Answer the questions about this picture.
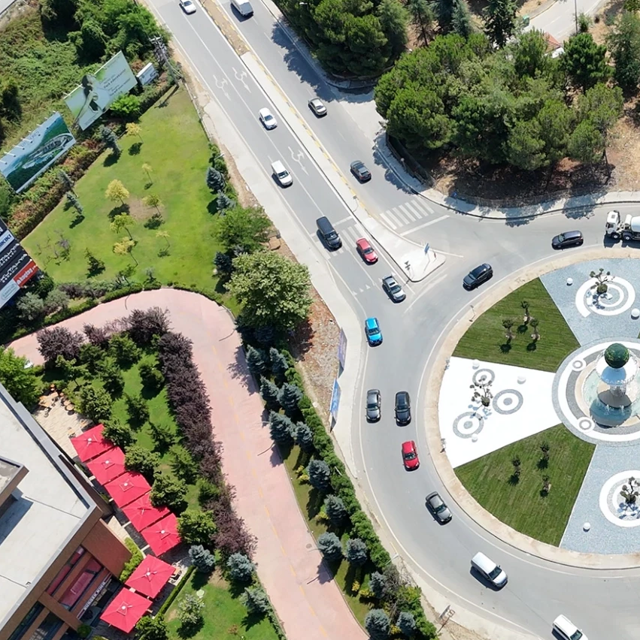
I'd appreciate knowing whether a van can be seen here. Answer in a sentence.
Yes, there's a van here.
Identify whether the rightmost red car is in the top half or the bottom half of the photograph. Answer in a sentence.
The rightmost red car sits in the bottom half of the picture.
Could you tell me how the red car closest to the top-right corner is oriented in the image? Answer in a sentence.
From this overhead view, the red car closest to the top-right corner appears to run at an angle.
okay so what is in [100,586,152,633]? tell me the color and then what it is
red umbrella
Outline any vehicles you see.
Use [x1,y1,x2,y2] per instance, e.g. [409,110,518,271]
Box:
[354,237,378,265]
[421,489,456,528]
[466,547,512,592]
[364,316,383,349]
[379,274,407,303]
[308,98,328,118]
[400,438,421,473]
[270,159,293,187]
[315,215,343,249]
[258,107,278,130]
[180,0,195,12]
[351,162,371,184]
[364,389,382,425]
[548,613,590,640]
[462,262,495,290]
[233,0,252,17]
[551,230,584,250]
[393,390,412,427]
